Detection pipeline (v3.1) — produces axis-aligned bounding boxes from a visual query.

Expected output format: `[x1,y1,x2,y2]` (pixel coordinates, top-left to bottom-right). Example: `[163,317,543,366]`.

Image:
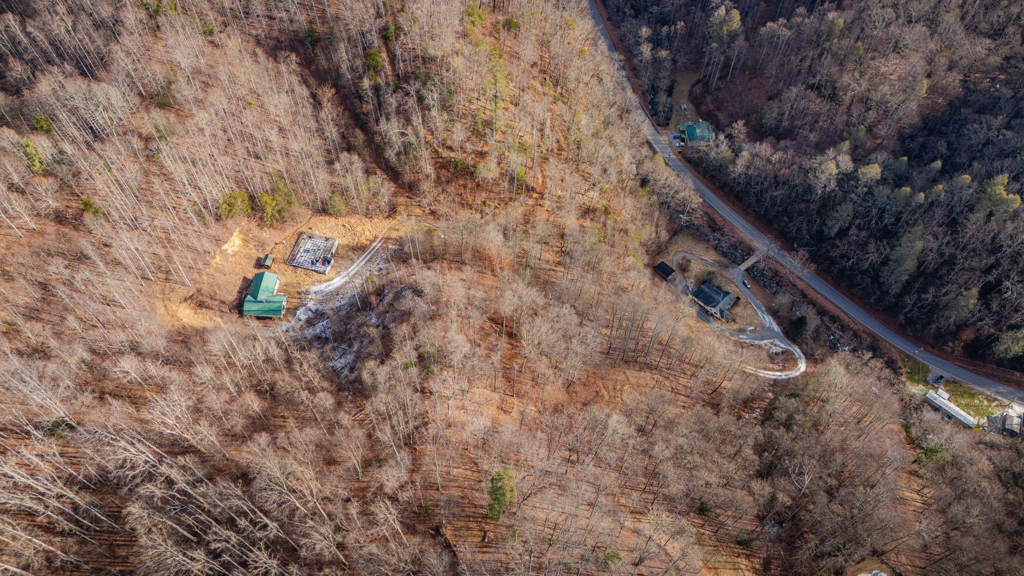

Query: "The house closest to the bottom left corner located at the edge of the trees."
[243,271,287,323]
